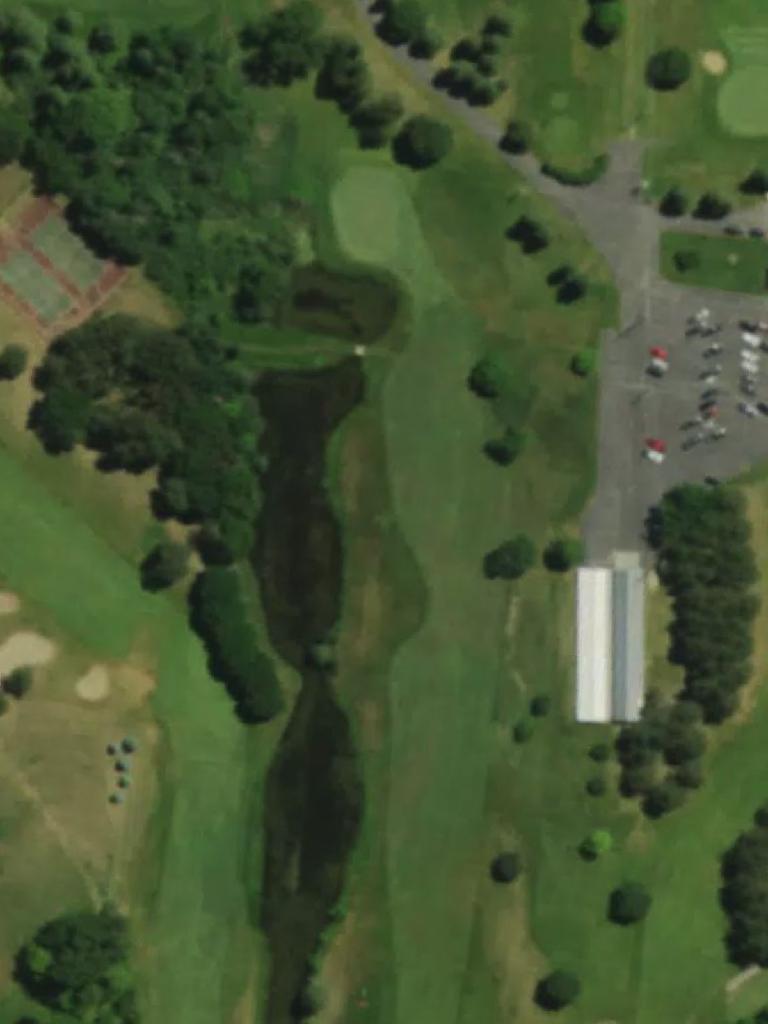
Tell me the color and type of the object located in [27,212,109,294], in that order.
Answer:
green tennis court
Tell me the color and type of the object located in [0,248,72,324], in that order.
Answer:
green tennis court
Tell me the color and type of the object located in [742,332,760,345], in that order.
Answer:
white vehicle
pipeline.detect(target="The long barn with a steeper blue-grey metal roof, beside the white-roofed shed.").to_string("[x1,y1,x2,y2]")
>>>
[614,567,644,722]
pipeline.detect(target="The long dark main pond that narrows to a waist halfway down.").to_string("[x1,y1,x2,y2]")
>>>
[253,357,367,1024]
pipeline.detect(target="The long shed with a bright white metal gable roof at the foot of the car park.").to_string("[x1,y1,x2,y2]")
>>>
[577,568,611,722]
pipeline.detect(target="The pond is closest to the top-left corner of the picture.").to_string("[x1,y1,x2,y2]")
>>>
[280,264,404,341]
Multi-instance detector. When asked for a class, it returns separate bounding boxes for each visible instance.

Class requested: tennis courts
[27,212,109,294]
[0,248,72,324]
